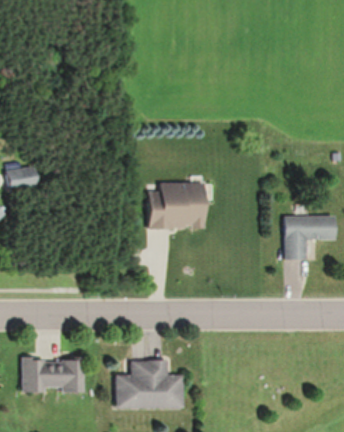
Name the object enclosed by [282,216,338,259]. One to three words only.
house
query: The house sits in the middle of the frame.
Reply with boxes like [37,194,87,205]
[146,182,208,229]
